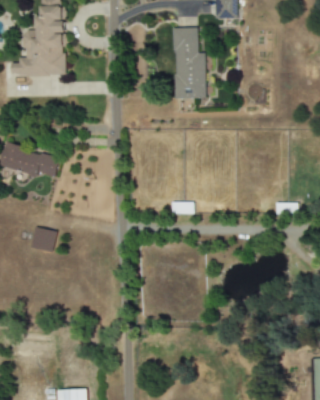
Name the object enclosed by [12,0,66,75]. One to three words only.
house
